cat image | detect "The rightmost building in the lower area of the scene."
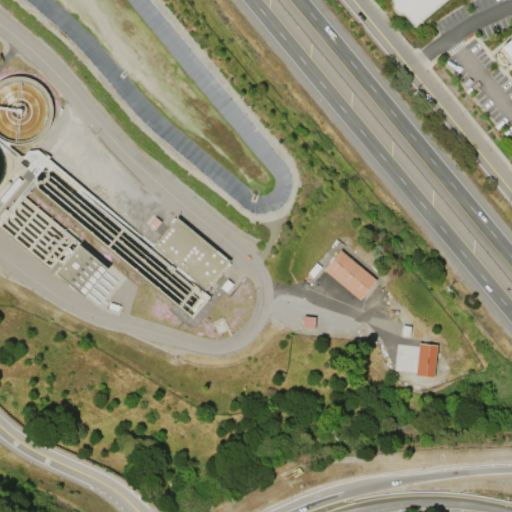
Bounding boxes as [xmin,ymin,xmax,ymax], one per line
[418,343,439,378]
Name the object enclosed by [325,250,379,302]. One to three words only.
barn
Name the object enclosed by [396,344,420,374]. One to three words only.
building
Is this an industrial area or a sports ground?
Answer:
industrial area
